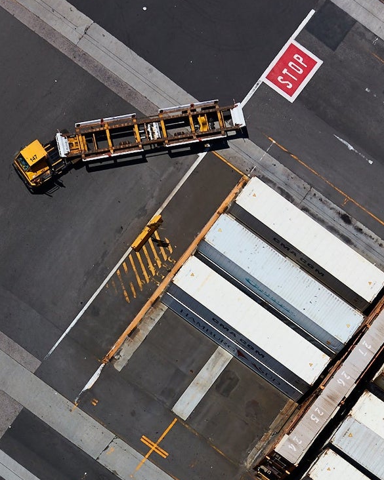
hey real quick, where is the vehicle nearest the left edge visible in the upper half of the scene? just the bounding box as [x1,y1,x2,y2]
[12,129,88,193]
